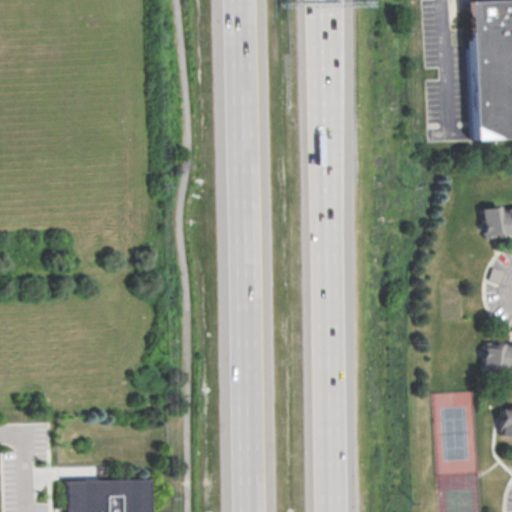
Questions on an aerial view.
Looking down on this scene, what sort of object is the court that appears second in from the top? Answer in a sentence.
I'd say the court that appears second in from the top is a tennis court.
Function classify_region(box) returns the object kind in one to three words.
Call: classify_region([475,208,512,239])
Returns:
house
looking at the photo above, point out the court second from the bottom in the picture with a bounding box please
[431,392,480,476]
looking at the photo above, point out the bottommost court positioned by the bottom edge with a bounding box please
[436,474,482,512]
